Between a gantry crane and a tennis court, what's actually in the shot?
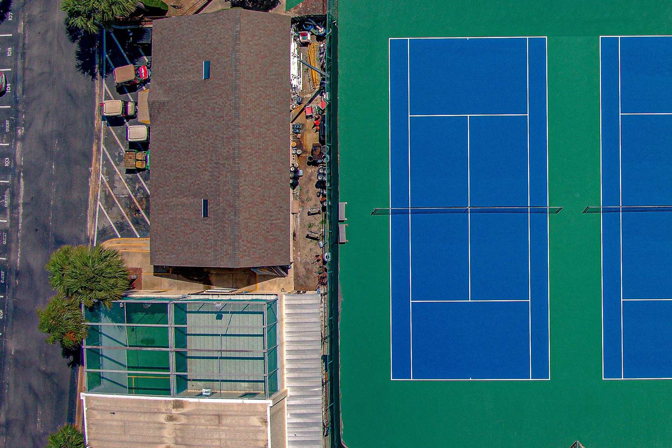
tennis court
